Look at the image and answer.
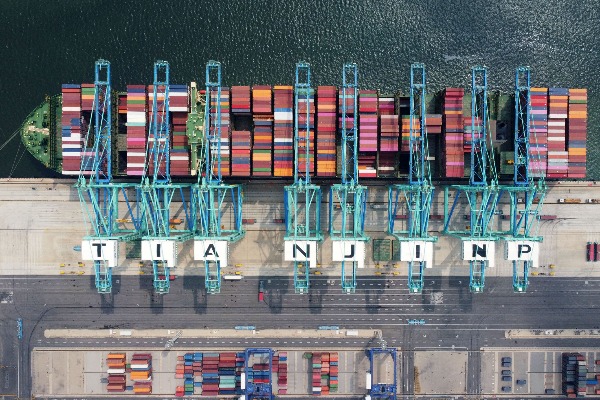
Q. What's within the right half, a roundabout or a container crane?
container crane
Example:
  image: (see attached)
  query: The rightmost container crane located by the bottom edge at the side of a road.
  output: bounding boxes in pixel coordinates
[360,347,397,400]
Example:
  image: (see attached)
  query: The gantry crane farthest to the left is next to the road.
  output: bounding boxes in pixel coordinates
[76,59,149,294]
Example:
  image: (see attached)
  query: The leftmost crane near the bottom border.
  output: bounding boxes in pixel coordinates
[238,347,277,400]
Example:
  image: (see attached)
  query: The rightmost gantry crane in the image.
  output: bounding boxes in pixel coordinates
[476,63,551,295]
